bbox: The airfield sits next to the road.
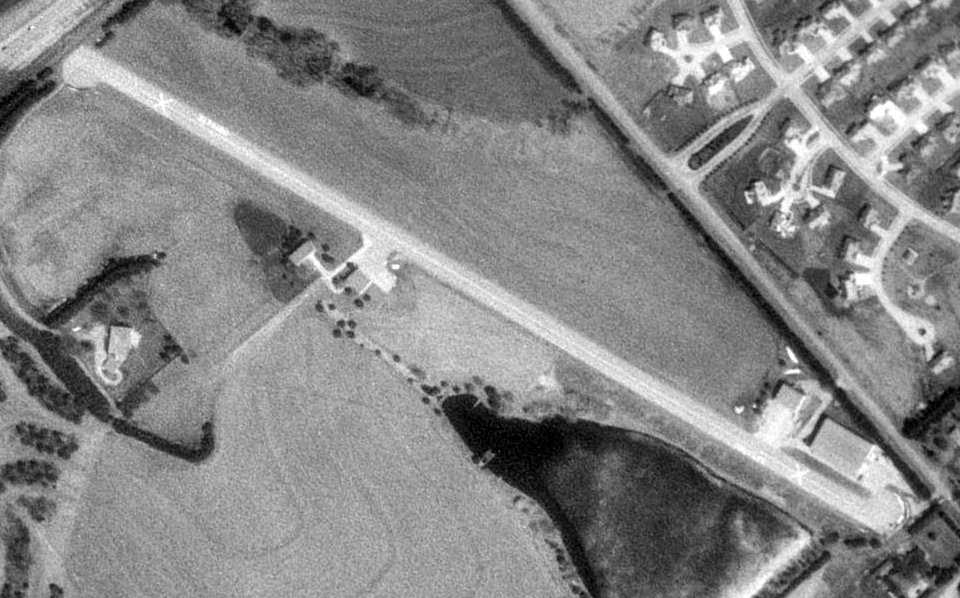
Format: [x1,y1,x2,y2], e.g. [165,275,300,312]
[66,48,922,529]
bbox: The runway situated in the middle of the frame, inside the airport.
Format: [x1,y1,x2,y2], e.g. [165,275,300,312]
[66,48,903,529]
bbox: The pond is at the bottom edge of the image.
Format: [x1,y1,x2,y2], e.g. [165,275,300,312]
[445,395,809,598]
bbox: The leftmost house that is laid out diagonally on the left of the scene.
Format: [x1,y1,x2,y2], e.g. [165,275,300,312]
[288,240,317,266]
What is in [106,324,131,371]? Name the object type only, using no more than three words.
house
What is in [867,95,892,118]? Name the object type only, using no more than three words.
house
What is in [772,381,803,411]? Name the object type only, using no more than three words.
hangar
